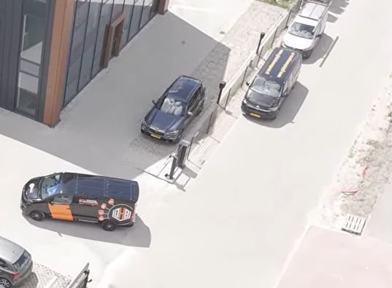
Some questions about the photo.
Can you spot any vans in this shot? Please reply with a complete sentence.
Yes, there's a van down there.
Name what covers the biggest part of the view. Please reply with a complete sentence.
The scene is dominated by paved ground.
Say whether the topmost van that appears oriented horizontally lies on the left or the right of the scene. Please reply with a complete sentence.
It is on the left.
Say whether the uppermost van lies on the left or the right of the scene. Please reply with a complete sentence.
You can find the uppermost van on the right side of the picture.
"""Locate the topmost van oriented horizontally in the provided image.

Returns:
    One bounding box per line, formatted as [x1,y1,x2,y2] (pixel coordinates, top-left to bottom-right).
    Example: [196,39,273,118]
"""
[17,166,141,229]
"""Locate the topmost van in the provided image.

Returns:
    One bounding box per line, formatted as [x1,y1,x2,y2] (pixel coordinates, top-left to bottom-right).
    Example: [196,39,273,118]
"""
[280,0,334,56]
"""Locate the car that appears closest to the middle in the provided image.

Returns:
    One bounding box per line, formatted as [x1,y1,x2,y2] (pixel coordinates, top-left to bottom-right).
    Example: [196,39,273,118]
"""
[139,76,206,147]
